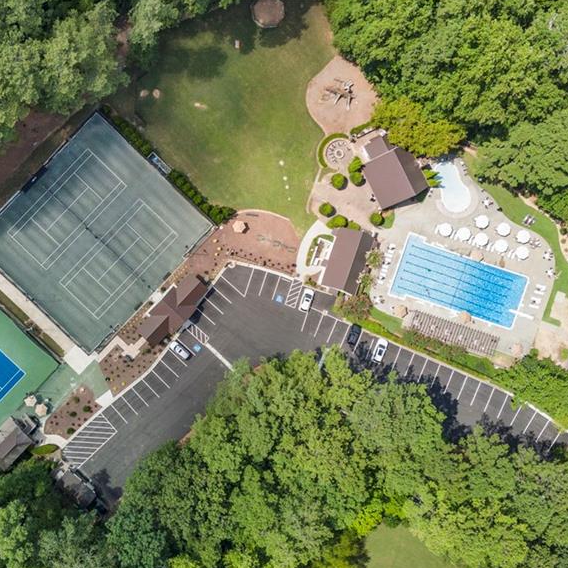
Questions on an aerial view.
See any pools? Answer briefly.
Yes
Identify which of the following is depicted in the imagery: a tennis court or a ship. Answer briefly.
tennis court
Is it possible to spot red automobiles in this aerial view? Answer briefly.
No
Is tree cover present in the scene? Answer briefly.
Yes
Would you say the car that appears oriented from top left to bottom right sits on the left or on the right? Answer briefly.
left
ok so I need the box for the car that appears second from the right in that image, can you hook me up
[346,323,361,347]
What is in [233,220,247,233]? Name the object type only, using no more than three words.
umbrella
